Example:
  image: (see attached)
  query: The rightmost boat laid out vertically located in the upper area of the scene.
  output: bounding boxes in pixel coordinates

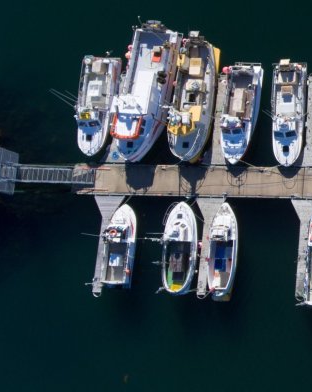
[265,62,306,167]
